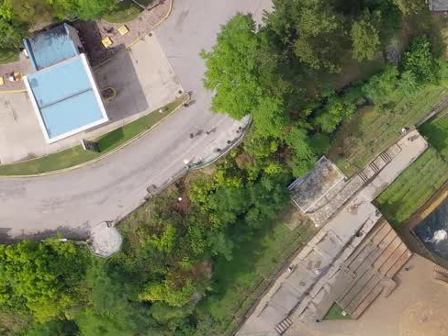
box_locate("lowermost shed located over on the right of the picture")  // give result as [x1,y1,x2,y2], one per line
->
[288,157,350,213]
